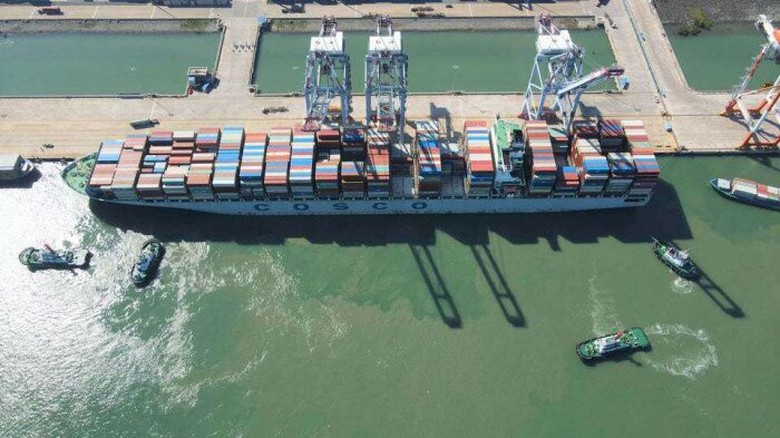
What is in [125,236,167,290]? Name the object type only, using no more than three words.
boat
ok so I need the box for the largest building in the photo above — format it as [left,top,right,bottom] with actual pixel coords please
[181,64,206,86]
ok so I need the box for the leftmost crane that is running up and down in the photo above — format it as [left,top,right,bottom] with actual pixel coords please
[305,16,353,137]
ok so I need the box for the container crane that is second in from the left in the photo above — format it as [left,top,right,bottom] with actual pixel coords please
[361,15,411,143]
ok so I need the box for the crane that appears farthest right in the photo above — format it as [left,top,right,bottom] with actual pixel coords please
[724,14,780,148]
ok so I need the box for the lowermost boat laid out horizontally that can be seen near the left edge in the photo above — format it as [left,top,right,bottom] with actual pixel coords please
[18,239,93,272]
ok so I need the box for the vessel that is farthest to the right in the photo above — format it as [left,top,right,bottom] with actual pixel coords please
[709,176,780,213]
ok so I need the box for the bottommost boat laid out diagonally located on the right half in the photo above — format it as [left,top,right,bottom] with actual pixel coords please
[648,235,706,284]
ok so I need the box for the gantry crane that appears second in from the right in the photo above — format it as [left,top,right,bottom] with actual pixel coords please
[513,14,617,133]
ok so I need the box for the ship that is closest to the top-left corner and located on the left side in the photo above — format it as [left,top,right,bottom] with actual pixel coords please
[0,158,35,184]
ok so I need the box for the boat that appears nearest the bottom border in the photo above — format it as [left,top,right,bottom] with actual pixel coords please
[577,321,652,361]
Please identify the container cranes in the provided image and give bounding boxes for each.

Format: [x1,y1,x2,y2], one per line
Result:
[513,14,617,133]
[305,16,353,137]
[361,15,411,143]
[724,14,780,148]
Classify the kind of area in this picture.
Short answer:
port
